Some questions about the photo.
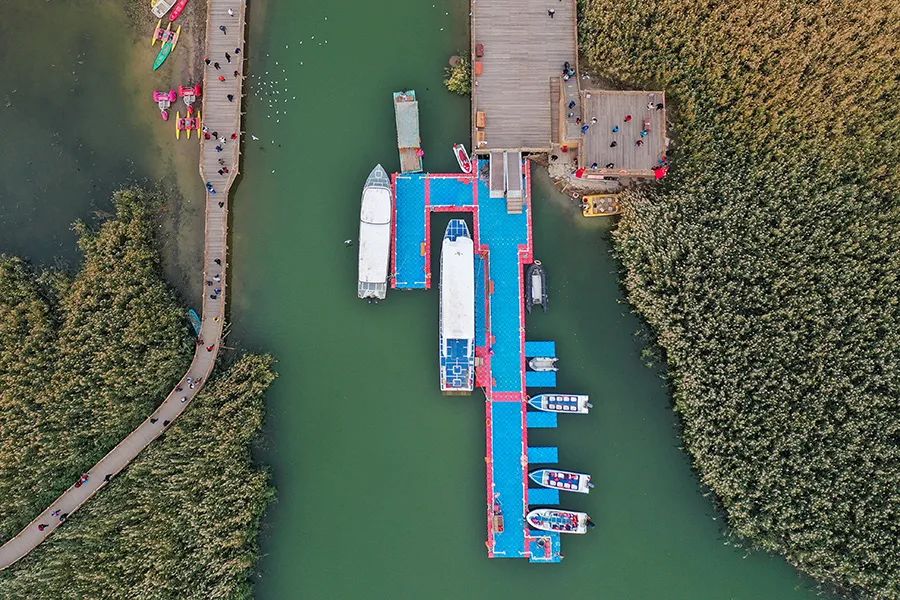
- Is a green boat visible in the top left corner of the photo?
Yes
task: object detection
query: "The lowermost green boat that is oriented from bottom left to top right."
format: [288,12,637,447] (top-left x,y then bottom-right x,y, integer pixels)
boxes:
[153,43,171,70]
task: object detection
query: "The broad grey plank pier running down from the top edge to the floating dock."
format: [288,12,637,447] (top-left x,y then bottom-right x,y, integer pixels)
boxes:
[472,0,582,152]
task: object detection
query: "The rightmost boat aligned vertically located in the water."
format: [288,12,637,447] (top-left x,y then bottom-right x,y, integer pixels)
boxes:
[526,265,548,310]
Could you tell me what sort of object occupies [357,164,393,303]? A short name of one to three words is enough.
boat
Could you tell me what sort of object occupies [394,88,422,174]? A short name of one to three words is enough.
vessel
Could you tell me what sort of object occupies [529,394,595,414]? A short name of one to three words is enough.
boat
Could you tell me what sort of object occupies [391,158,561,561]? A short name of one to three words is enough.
pier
